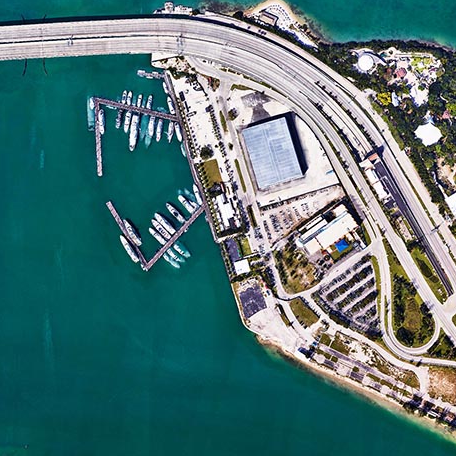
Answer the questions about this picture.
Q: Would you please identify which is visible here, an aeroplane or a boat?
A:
boat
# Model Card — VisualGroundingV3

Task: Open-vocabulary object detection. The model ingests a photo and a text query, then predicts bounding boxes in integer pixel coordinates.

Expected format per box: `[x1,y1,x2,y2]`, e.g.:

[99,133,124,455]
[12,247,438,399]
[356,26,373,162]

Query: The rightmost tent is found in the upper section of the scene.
[415,122,442,146]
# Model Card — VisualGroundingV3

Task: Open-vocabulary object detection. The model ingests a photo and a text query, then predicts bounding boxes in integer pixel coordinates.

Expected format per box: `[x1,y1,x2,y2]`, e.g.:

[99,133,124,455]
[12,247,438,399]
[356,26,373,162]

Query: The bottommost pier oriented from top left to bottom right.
[105,201,147,267]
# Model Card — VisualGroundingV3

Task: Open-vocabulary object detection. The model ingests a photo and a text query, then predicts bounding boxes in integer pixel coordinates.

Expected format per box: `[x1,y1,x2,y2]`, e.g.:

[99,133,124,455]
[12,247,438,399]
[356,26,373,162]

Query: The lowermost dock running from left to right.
[94,98,177,122]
